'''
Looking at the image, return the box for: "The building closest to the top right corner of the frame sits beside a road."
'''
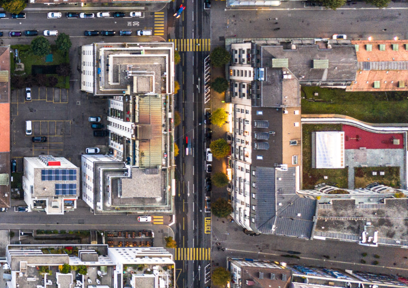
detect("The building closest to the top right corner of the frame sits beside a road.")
[322,41,408,91]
